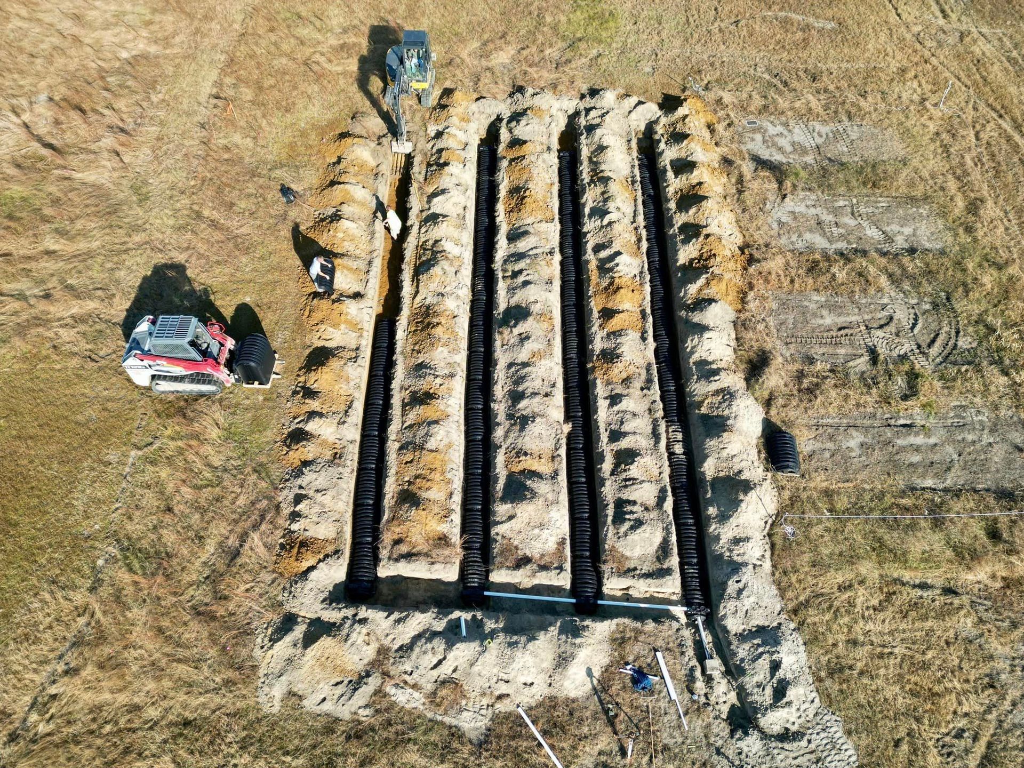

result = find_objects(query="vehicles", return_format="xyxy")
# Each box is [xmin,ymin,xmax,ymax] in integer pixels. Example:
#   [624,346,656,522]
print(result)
[121,315,241,394]
[380,27,437,154]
